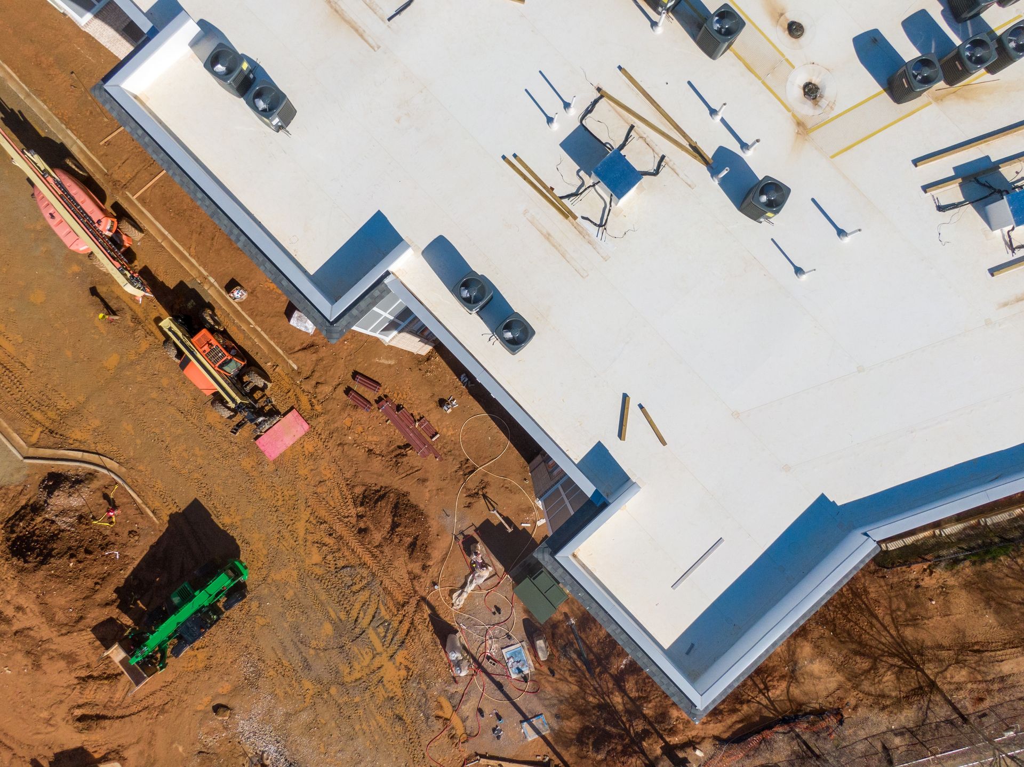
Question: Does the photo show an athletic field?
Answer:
No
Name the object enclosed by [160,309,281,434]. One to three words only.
work vehicle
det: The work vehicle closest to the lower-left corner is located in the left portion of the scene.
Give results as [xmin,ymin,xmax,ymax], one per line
[97,551,254,697]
